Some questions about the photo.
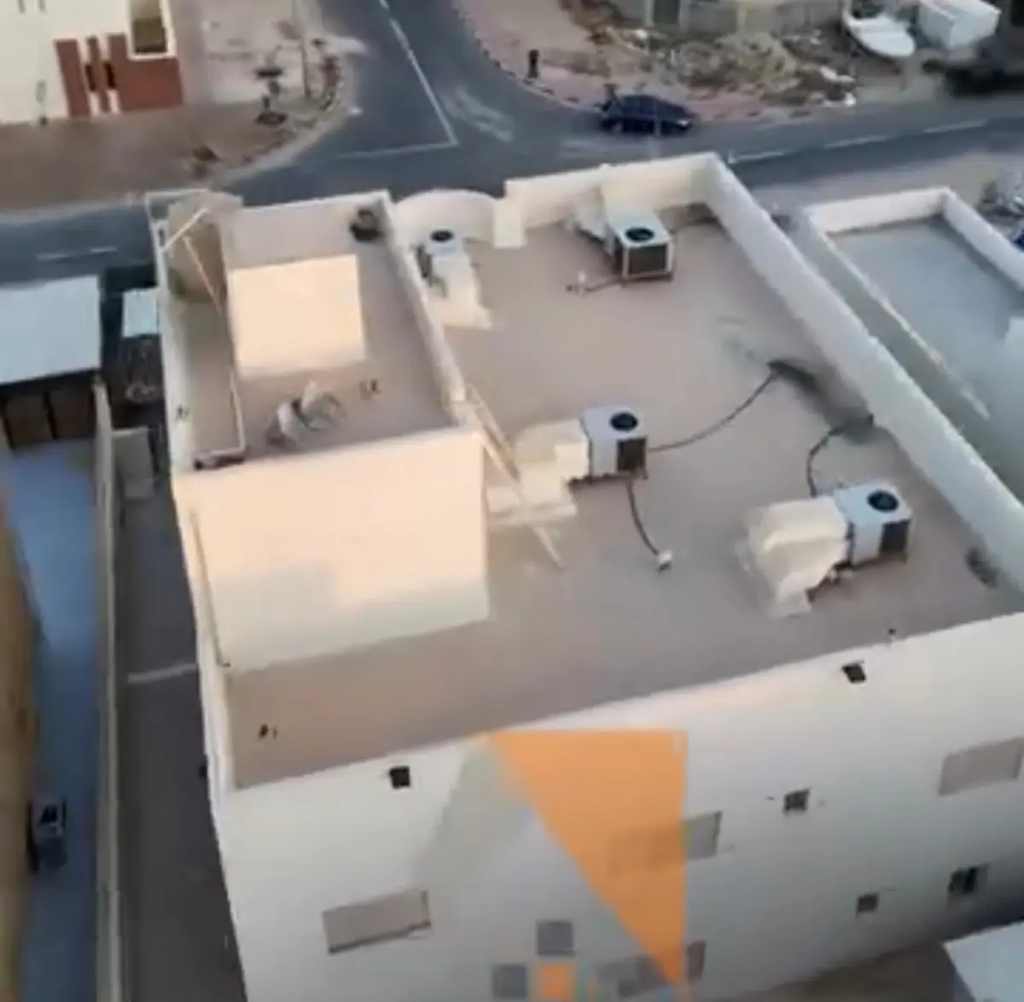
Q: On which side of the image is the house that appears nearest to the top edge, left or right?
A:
left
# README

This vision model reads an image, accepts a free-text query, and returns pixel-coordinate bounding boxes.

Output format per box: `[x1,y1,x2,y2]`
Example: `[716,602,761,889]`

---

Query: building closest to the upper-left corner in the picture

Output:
[0,0,185,124]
